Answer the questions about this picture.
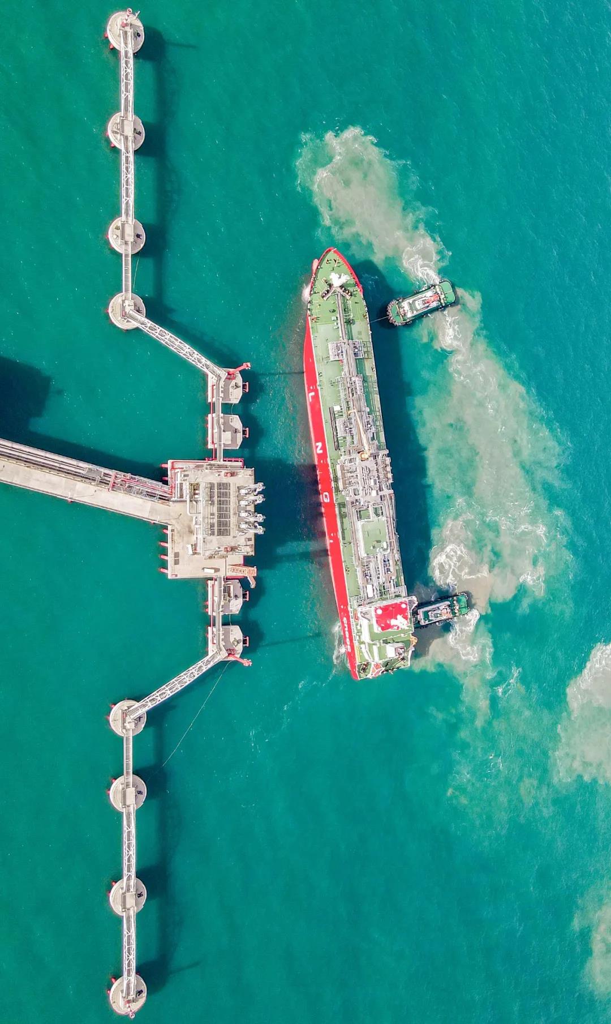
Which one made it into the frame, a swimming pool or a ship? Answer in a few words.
ship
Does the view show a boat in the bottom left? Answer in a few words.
No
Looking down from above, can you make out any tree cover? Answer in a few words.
No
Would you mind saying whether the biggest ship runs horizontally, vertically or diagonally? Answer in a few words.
vertically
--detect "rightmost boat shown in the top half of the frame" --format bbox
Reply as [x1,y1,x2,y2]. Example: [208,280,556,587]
[387,279,456,328]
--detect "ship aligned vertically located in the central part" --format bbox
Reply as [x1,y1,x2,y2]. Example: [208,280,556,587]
[303,245,419,679]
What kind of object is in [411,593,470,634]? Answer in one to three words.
boat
